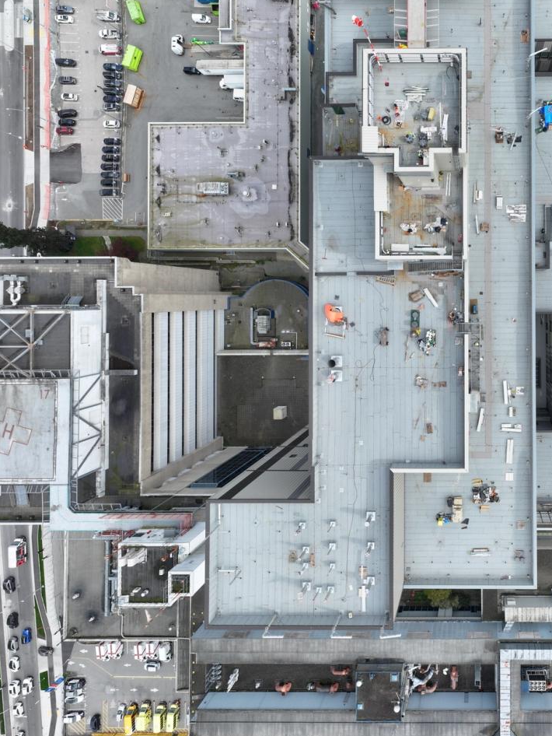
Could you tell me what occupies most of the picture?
buildings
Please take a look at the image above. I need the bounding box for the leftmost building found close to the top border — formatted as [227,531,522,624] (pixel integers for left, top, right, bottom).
[148,0,312,268]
